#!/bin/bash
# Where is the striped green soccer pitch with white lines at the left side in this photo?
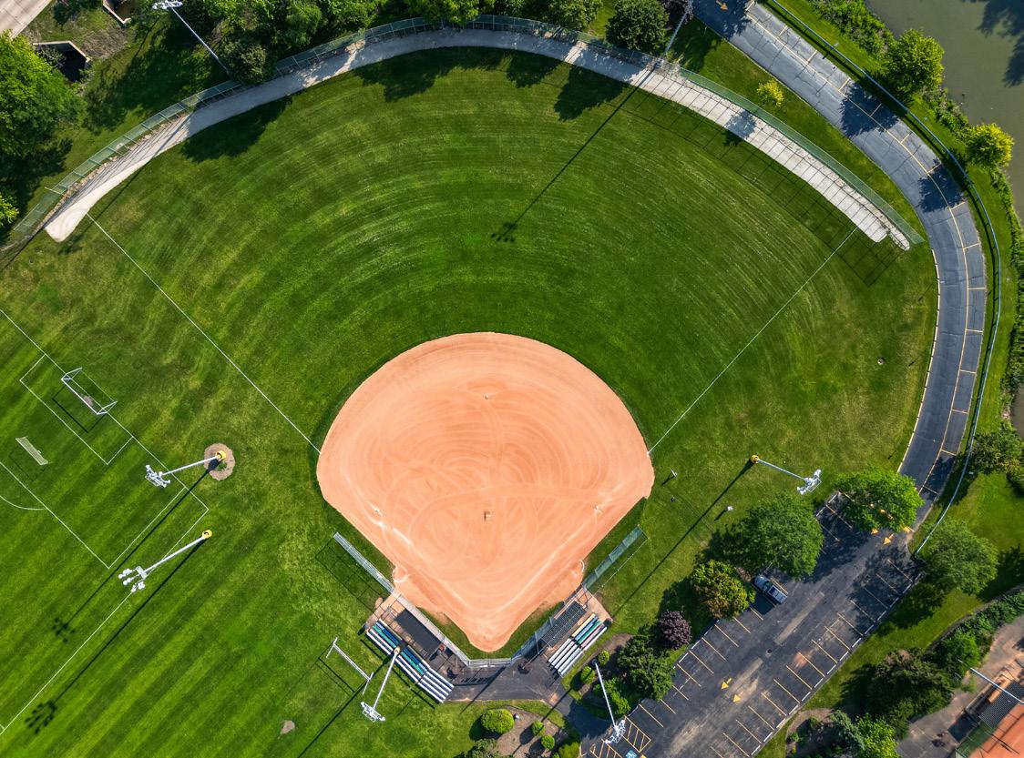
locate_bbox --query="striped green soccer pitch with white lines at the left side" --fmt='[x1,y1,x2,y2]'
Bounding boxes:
[0,309,208,730]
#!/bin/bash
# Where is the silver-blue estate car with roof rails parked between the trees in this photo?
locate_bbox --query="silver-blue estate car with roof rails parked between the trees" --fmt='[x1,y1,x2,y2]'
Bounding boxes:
[755,574,786,603]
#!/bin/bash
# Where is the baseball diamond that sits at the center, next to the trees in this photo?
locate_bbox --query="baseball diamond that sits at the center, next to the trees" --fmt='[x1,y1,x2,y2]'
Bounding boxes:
[27,18,913,653]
